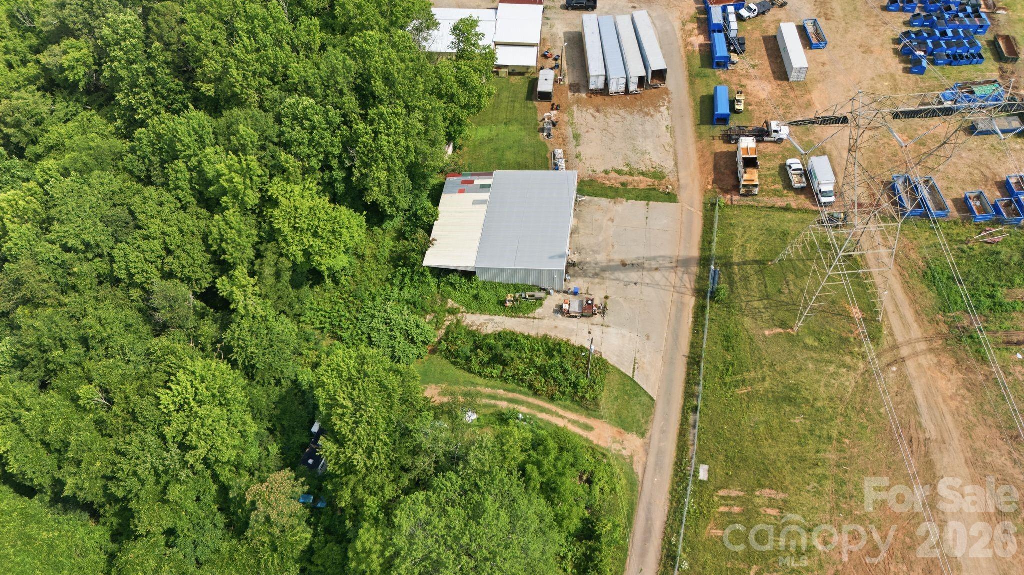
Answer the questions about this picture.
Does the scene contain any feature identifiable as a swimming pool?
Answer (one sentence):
No, there appears to be no swimming pool in this shot.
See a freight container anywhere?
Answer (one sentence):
Yes, a freight container can be made out from above.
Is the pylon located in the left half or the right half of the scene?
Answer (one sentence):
You can find the pylon on the right side of the picture.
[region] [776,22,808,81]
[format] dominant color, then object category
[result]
white shipping container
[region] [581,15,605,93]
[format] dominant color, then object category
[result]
white trailer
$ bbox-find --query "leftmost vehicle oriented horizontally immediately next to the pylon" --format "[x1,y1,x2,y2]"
[724,120,791,142]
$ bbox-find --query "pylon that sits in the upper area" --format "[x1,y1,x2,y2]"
[770,77,1024,332]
